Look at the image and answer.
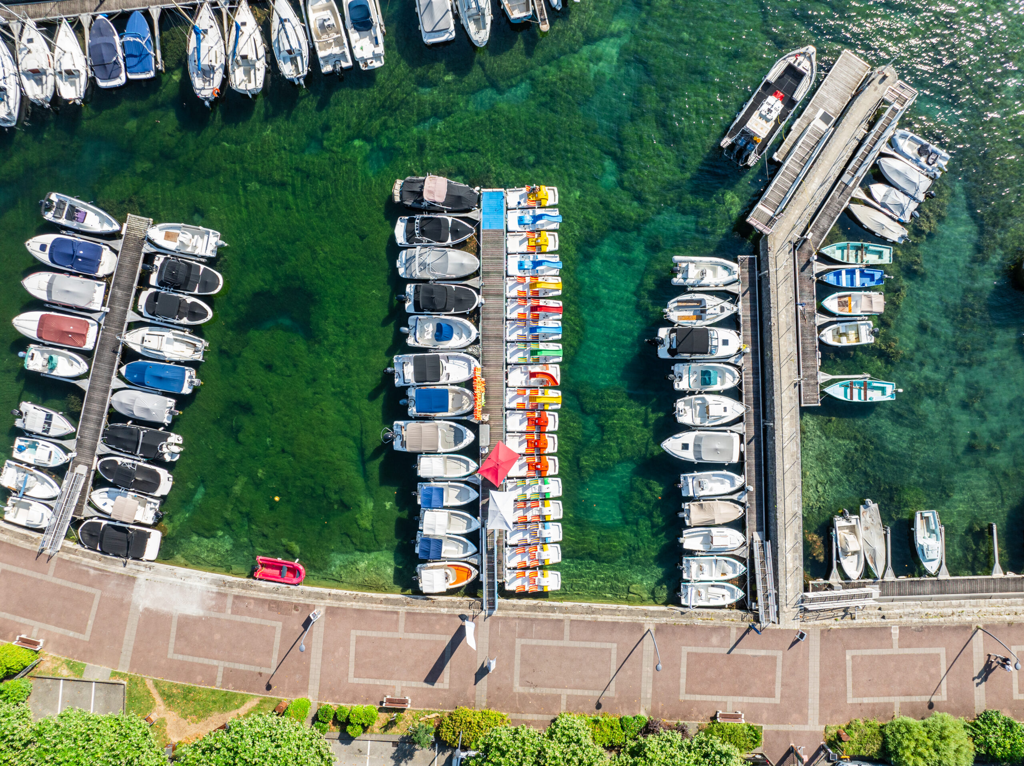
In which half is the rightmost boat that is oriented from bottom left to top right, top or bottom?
top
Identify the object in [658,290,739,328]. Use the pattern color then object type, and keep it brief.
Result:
white boat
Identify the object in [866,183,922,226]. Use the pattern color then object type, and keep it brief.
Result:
white boat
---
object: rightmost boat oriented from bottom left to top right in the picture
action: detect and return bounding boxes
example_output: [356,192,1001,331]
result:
[717,43,816,176]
